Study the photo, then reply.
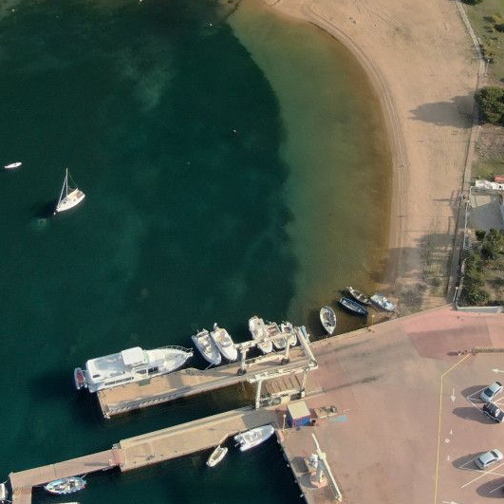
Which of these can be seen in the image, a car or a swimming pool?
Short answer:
car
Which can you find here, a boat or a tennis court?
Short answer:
boat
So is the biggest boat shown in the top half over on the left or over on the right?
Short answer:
left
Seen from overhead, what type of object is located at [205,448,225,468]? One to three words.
boat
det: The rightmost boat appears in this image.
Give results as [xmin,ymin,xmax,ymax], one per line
[370,293,395,309]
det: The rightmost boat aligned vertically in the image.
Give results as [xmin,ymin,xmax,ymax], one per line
[321,306,336,335]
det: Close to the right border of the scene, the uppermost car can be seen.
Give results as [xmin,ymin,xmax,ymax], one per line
[478,382,504,402]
